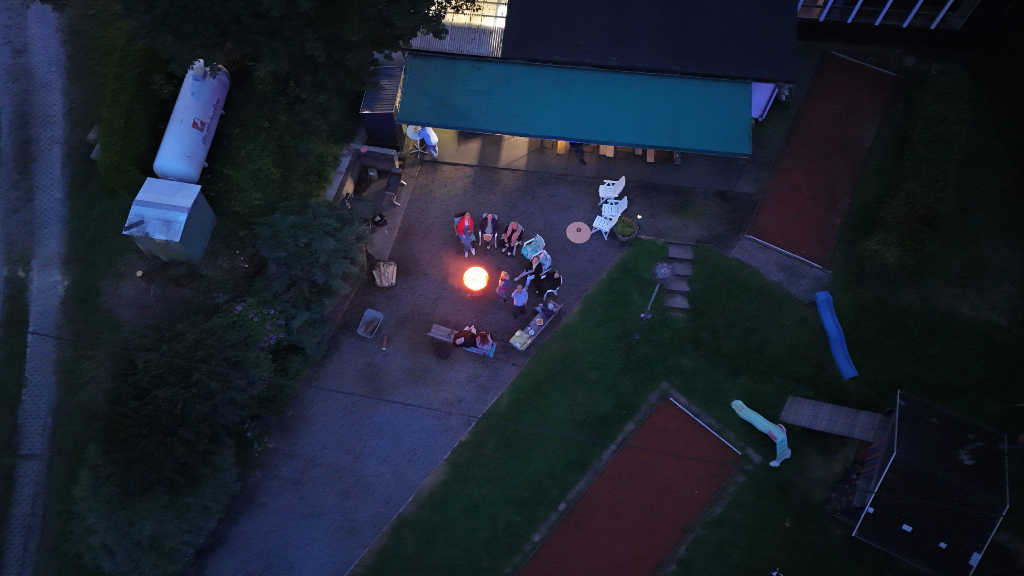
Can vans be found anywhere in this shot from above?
No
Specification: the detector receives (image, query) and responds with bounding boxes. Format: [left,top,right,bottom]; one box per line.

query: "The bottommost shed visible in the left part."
[123,177,221,267]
